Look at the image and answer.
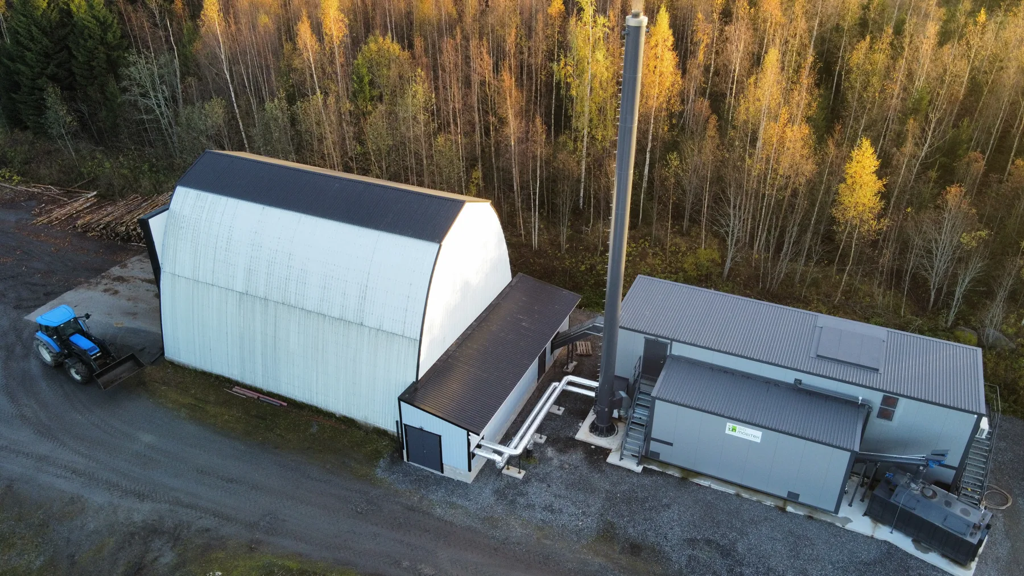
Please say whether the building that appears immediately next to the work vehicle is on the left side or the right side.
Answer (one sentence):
It is on the left.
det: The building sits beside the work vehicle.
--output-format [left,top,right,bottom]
[135,149,513,434]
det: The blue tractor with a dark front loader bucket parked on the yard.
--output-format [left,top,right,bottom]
[35,307,143,398]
